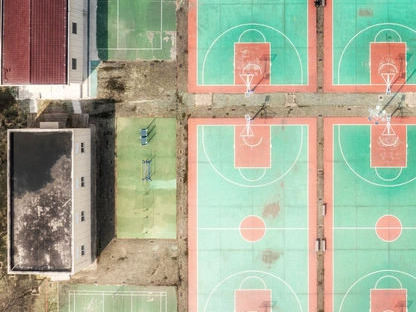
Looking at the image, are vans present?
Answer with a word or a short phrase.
No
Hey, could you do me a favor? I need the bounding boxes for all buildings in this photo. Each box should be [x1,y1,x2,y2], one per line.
[8,119,92,273]
[1,0,86,85]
